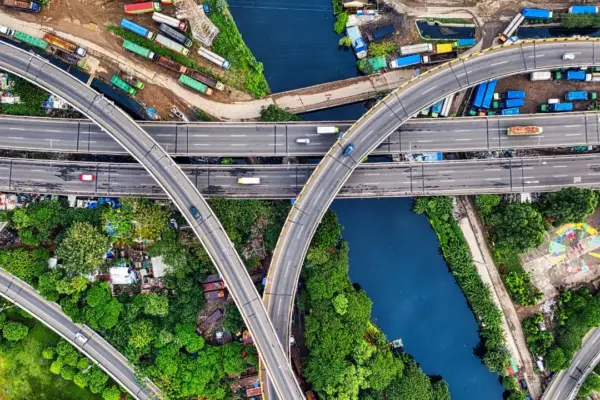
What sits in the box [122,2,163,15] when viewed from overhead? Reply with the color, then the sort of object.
red vehicle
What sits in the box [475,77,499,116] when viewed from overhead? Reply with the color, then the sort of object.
blue truck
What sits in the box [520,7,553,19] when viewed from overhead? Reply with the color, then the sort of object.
blue vehicle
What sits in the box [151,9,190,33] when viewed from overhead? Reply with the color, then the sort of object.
white truck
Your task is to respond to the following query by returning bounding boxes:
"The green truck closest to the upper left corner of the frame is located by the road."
[0,23,51,50]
